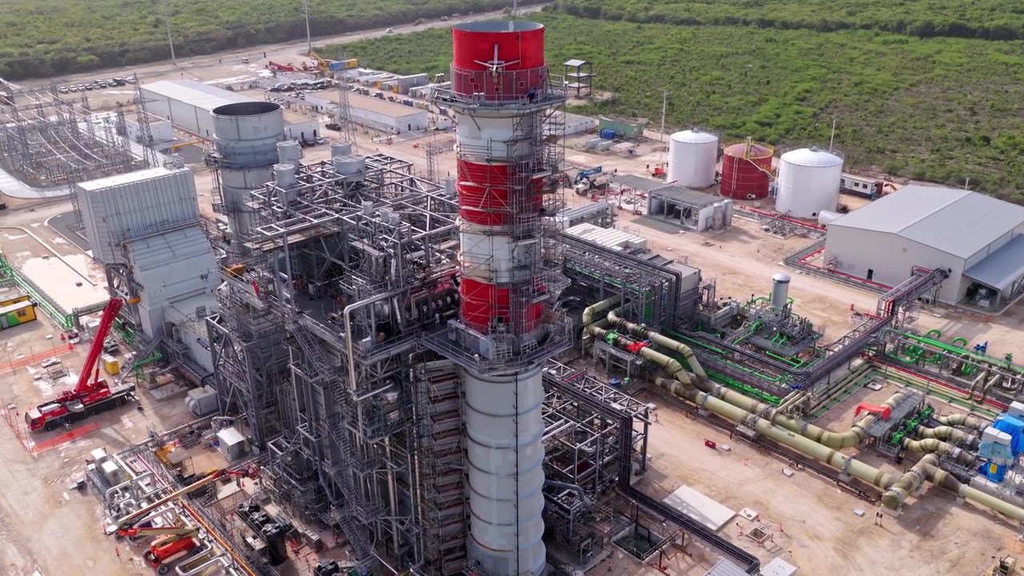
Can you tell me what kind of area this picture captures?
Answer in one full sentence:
This looks like an industrial area.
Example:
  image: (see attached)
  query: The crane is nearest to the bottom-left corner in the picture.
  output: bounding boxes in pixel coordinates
[15,285,141,427]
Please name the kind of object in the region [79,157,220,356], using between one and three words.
house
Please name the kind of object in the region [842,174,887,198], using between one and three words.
trailer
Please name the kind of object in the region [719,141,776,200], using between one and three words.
storage tank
